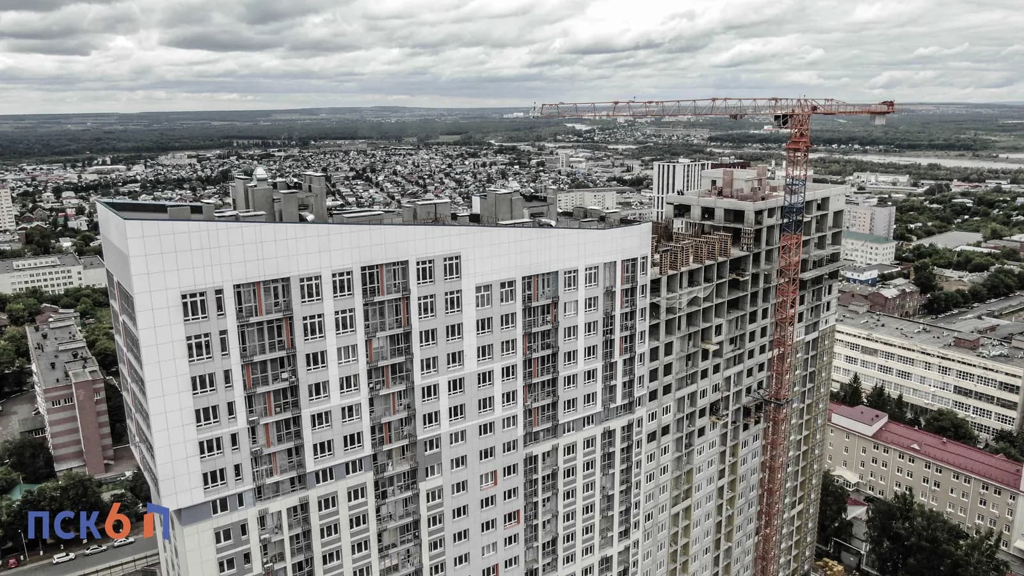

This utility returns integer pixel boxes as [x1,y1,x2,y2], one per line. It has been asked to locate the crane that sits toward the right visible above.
[534,85,901,576]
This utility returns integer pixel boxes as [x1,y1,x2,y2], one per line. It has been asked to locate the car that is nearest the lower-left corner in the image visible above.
[3,554,22,569]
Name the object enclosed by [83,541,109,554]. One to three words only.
vehicle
